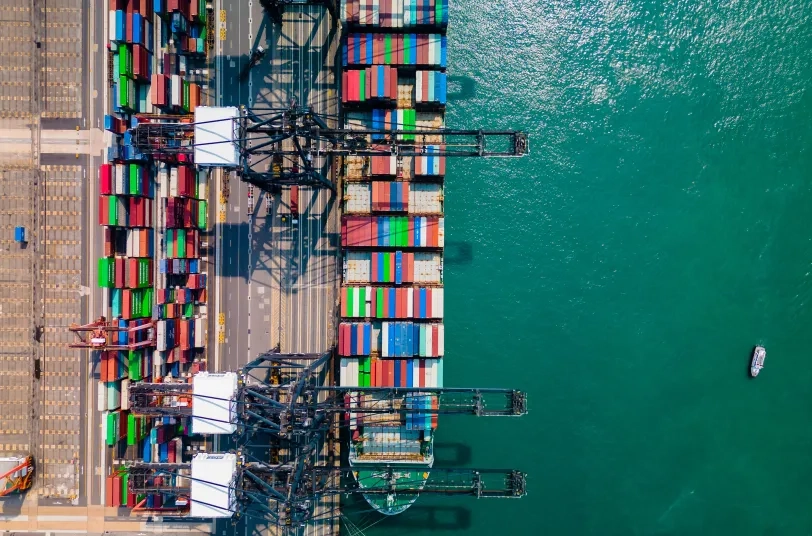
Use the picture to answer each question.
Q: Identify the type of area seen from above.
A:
port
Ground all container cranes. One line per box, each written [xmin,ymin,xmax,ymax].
[72,318,158,350]
[132,477,195,512]
[132,106,195,142]
[130,345,527,435]
[129,412,527,526]
[0,456,33,504]
[130,106,527,196]
[251,0,337,31]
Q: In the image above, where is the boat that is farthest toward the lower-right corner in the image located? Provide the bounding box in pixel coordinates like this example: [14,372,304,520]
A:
[753,346,770,378]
